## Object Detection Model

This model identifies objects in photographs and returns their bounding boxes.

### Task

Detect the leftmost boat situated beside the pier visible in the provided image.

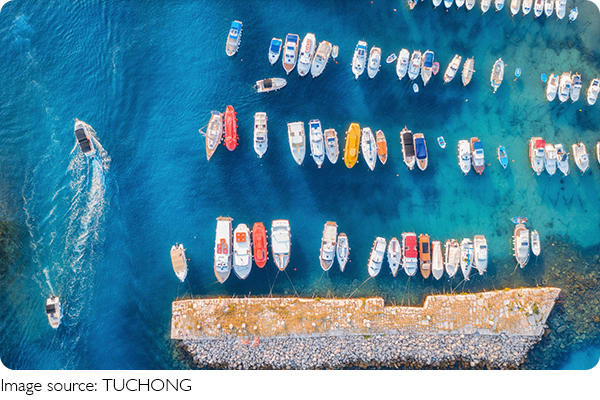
[171,245,188,283]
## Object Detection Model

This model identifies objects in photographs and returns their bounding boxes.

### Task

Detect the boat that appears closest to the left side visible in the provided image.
[46,295,62,329]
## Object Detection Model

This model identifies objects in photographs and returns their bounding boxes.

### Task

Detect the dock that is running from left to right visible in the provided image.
[171,286,560,339]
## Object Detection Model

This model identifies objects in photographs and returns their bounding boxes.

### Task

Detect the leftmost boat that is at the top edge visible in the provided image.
[226,19,243,56]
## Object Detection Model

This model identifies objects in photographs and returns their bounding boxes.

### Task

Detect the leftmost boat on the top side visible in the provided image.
[73,117,96,159]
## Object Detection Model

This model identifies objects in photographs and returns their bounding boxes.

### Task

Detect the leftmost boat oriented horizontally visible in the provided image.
[254,78,287,93]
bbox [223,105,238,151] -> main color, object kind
red boat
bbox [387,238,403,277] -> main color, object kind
white boat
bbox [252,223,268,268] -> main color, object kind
red boat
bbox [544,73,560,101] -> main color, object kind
white boat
